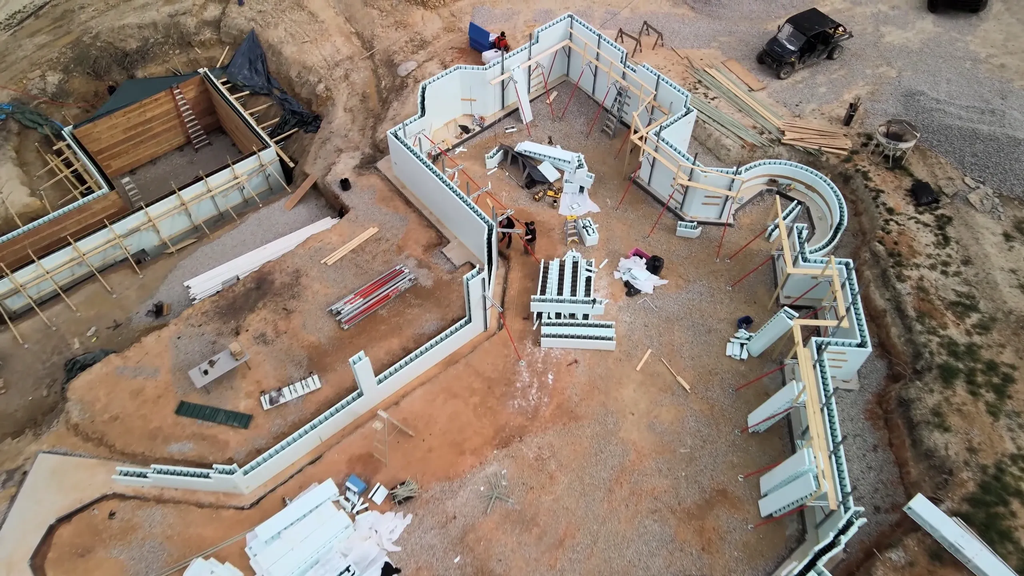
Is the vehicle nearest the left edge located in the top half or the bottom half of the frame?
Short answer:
top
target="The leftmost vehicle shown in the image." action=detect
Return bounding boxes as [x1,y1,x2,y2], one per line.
[759,2,851,77]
